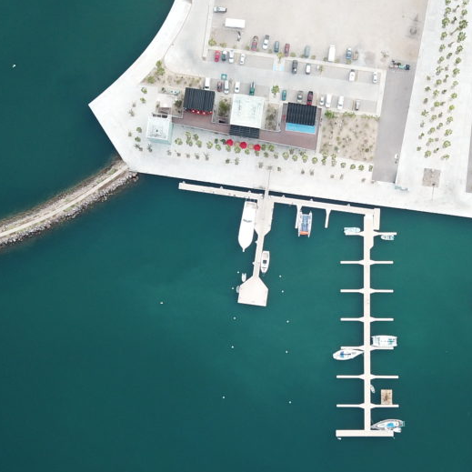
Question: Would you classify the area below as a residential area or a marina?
marina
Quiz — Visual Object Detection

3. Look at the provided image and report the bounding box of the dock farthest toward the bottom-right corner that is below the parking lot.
[336,211,398,437]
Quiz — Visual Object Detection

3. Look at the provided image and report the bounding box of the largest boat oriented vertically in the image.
[239,198,258,254]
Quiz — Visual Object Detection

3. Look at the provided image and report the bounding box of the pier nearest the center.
[179,174,380,307]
